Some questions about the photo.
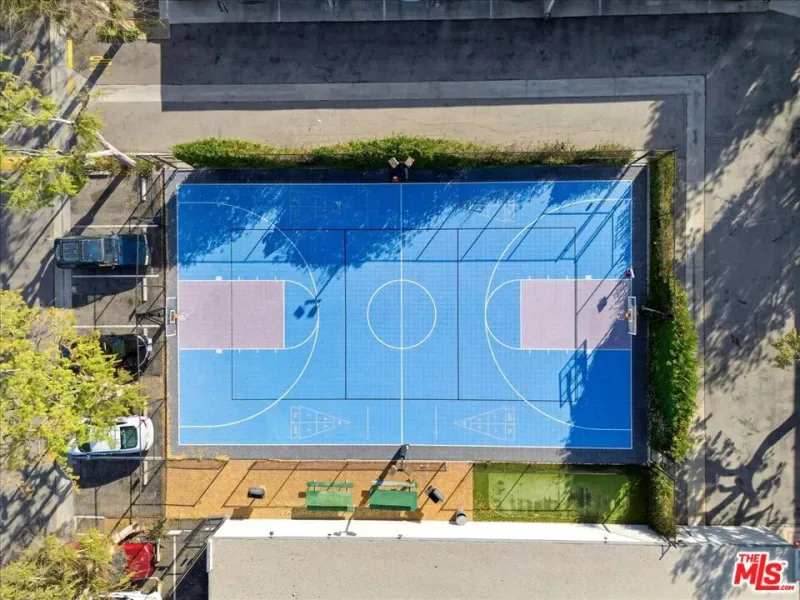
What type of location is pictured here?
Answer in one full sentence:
This image shows a sports ground.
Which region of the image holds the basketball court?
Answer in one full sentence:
The basketball court is located in the center region of the scene.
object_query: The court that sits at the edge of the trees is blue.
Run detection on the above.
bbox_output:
[166,165,648,464]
